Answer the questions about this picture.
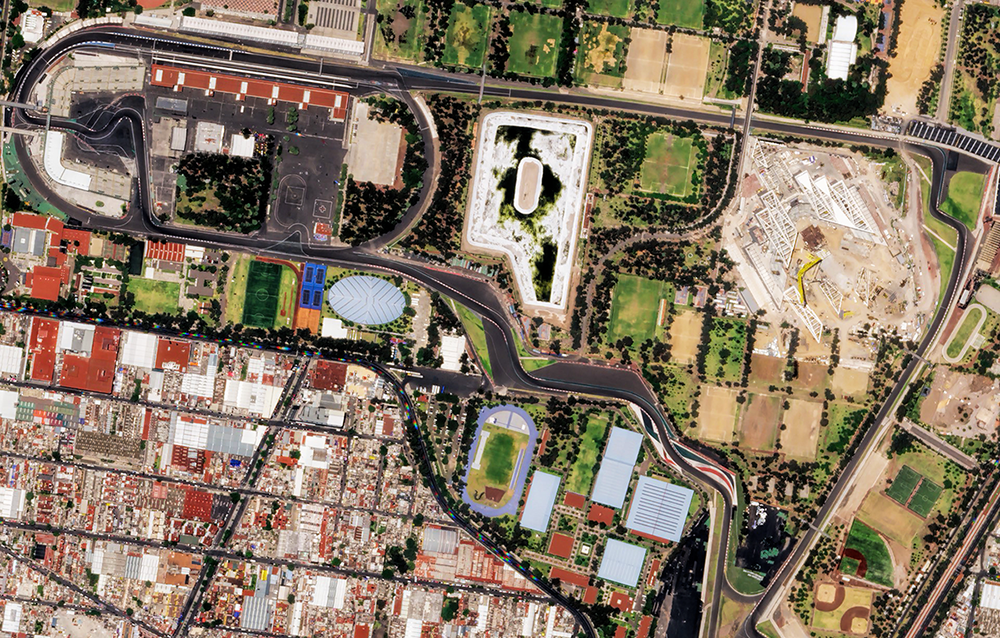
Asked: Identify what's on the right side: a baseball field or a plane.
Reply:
baseball field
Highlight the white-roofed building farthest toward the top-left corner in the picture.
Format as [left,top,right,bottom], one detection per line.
[20,8,48,42]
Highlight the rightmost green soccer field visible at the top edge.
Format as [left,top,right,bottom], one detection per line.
[657,0,704,28]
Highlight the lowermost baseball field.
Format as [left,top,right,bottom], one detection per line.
[811,581,874,636]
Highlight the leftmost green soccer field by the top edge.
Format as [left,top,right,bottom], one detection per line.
[441,3,490,66]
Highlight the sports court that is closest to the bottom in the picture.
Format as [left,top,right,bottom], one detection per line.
[549,532,574,558]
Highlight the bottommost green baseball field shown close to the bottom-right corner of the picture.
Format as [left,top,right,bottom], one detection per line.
[839,517,899,589]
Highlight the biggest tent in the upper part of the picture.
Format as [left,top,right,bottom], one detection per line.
[230,134,255,157]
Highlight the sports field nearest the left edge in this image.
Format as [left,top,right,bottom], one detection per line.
[129,278,180,313]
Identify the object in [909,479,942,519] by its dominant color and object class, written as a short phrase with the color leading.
green soccer field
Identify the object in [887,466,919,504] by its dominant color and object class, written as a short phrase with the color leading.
green soccer field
